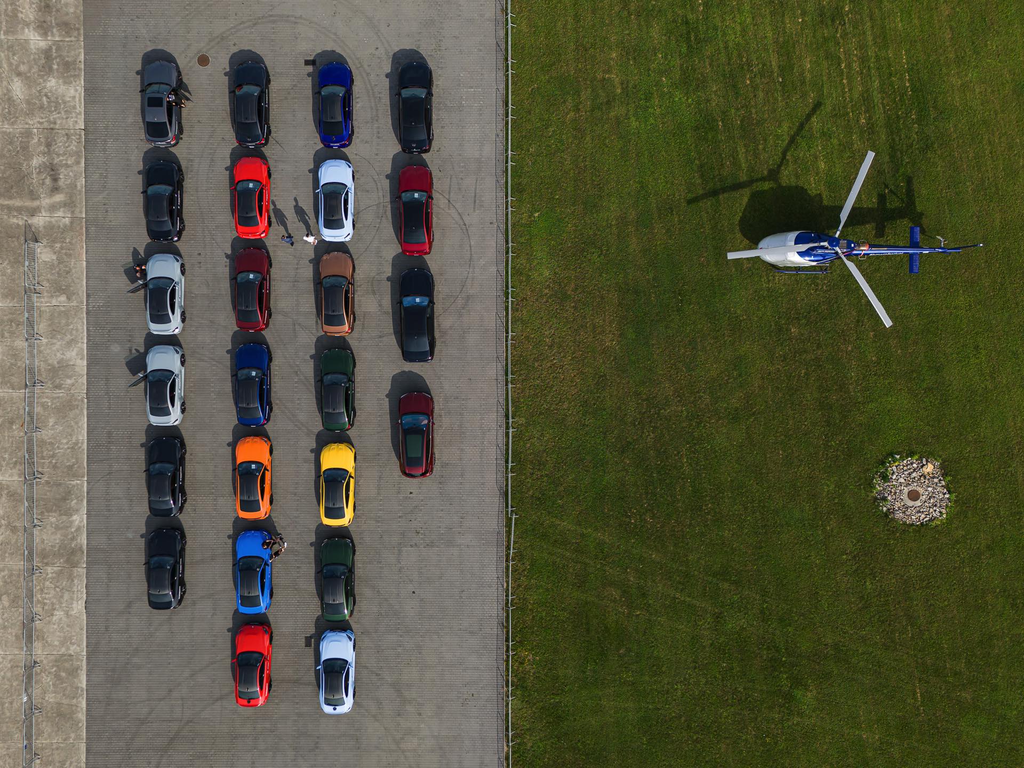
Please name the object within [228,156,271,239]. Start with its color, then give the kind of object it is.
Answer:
red car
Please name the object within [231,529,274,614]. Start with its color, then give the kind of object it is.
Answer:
blue car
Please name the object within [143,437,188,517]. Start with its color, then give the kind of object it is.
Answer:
black car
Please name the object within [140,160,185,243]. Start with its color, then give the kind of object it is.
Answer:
black car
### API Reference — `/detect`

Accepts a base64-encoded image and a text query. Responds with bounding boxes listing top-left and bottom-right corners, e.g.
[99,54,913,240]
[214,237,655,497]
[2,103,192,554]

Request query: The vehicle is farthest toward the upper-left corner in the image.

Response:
[138,60,195,149]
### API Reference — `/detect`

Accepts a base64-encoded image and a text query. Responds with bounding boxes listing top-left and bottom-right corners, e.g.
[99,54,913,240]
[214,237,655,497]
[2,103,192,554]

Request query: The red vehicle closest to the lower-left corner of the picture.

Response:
[230,623,273,709]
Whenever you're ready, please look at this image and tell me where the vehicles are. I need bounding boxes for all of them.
[124,345,186,425]
[315,629,356,716]
[142,528,187,610]
[143,437,188,517]
[138,60,195,149]
[315,252,356,336]
[229,61,272,149]
[316,537,357,622]
[230,343,273,427]
[396,268,438,363]
[316,442,357,527]
[231,529,274,614]
[123,254,186,334]
[229,248,272,332]
[313,61,355,149]
[394,61,436,155]
[395,392,437,479]
[231,436,274,520]
[140,160,185,243]
[314,159,355,242]
[395,165,436,256]
[228,156,271,239]
[230,623,273,709]
[316,347,357,431]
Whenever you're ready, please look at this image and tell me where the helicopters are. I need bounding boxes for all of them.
[730,151,983,328]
